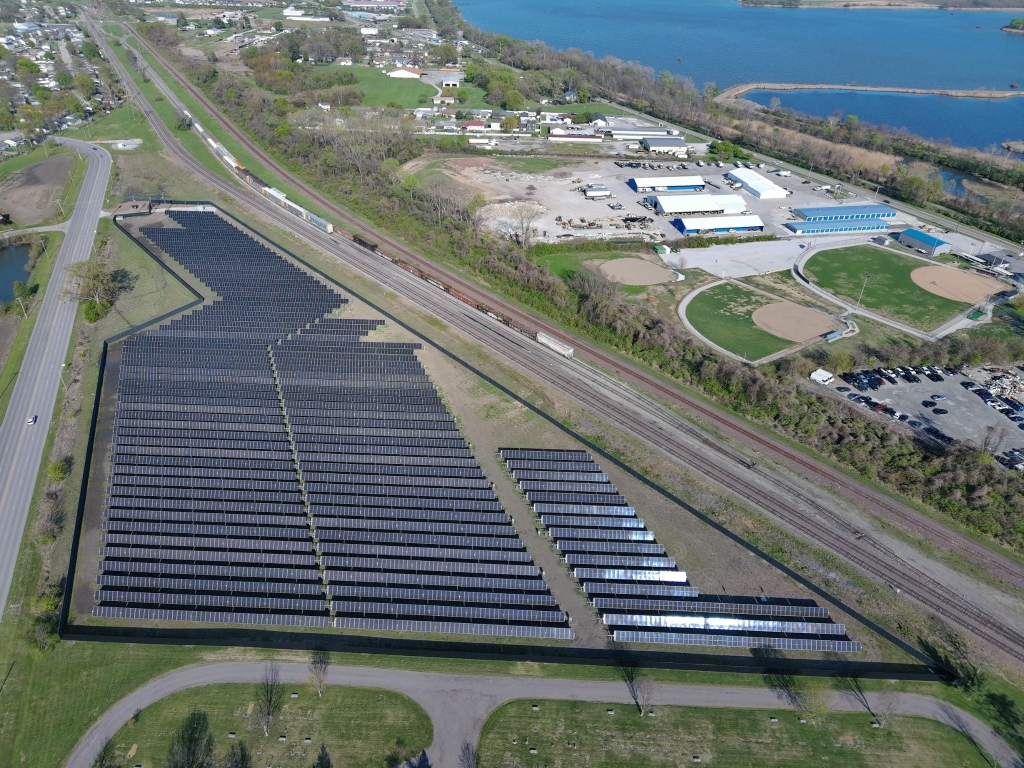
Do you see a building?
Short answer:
Yes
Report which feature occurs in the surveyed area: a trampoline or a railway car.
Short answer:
railway car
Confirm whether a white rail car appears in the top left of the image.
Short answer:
Yes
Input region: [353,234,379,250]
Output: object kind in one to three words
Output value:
rail car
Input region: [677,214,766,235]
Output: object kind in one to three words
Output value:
shed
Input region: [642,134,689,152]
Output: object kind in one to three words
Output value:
building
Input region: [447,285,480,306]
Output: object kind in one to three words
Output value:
rail car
